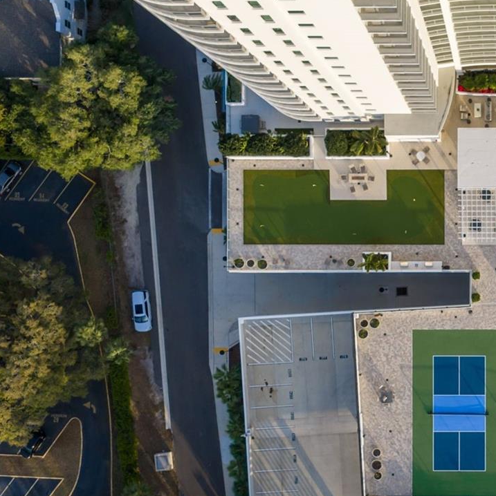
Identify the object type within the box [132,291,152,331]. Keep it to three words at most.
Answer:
car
